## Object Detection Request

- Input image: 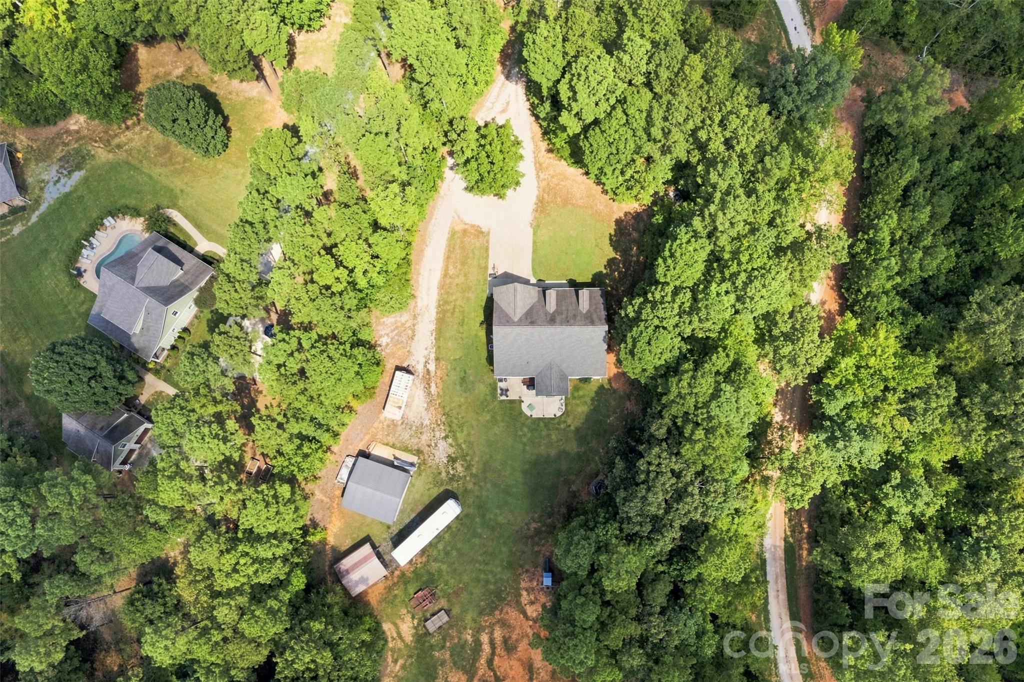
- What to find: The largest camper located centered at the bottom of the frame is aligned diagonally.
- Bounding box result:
[392,494,463,566]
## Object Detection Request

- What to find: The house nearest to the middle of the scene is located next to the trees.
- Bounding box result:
[492,282,608,397]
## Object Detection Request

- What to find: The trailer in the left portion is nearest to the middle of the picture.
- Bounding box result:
[384,365,415,419]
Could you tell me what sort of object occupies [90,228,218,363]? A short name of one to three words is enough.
house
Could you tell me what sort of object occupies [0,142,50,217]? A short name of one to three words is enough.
house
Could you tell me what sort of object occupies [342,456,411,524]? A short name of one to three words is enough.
building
